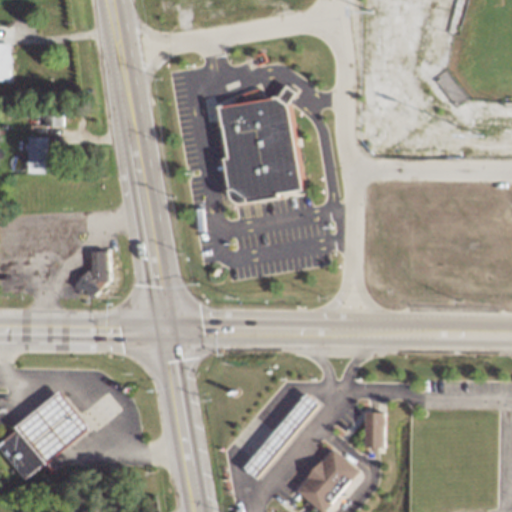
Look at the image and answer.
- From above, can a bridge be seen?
No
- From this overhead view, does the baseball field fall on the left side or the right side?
right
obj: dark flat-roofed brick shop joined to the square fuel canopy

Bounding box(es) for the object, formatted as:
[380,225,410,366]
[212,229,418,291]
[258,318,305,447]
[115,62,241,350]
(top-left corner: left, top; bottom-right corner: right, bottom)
[0,430,48,480]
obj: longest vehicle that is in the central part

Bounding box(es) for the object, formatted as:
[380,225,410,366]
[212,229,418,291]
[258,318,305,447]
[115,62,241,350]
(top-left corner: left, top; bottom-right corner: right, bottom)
[196,203,210,241]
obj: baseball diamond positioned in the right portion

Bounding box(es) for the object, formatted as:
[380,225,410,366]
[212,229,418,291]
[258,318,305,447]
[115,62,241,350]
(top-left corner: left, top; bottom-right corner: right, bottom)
[448,0,512,100]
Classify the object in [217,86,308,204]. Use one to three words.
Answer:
building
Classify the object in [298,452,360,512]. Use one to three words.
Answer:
building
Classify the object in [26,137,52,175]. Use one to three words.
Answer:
house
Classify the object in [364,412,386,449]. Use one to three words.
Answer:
house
